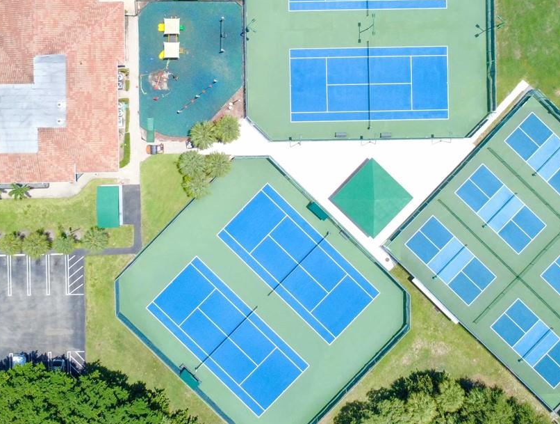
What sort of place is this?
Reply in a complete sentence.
This image shows a sports ground.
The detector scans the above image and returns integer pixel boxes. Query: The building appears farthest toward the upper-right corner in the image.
[332,158,413,239]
